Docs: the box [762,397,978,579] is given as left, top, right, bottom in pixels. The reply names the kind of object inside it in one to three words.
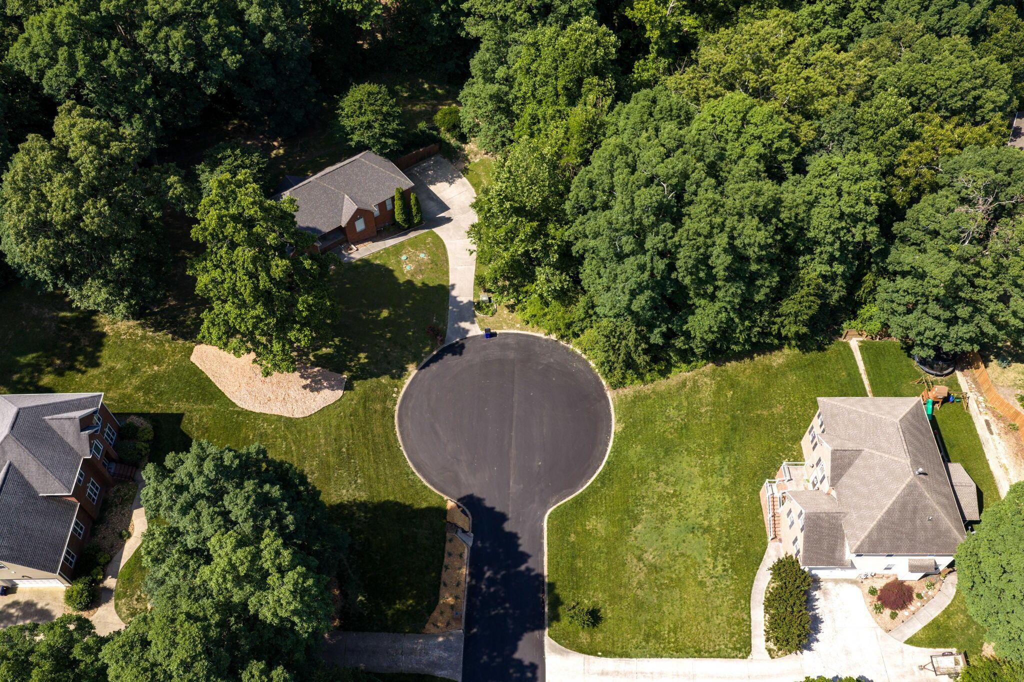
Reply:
house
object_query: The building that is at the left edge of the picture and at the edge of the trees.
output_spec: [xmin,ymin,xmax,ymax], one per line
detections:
[0,392,147,587]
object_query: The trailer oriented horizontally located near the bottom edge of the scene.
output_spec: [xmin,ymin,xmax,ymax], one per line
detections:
[916,650,971,677]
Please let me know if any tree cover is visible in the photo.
Yes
